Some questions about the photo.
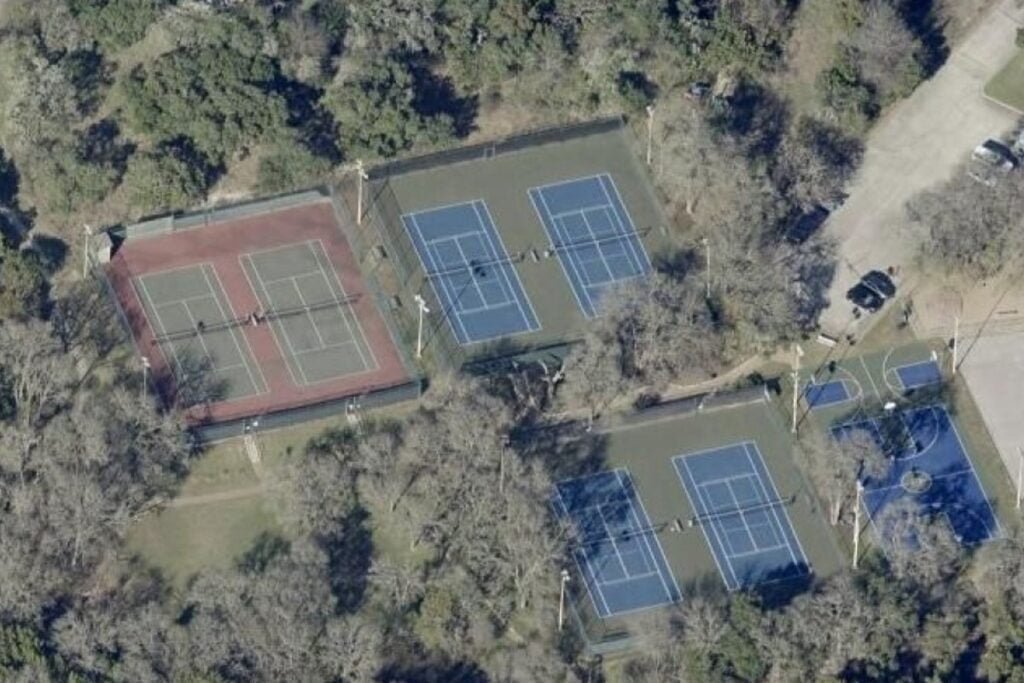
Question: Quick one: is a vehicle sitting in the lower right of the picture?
No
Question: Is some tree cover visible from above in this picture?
Yes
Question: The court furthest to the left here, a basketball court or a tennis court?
tennis court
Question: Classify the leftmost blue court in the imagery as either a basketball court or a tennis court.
tennis court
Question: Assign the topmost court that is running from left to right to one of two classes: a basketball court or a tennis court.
basketball court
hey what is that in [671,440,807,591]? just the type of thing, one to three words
tennis court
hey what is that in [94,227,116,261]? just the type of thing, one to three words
shed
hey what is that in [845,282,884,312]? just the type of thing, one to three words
car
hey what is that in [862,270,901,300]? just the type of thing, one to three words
car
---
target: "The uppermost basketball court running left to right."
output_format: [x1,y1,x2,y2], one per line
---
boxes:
[791,346,954,425]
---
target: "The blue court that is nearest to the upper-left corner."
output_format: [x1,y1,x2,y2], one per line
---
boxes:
[402,199,542,345]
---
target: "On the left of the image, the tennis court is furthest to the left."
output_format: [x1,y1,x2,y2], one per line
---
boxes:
[130,262,269,409]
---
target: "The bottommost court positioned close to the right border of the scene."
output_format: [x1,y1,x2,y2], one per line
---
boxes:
[830,405,1003,555]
